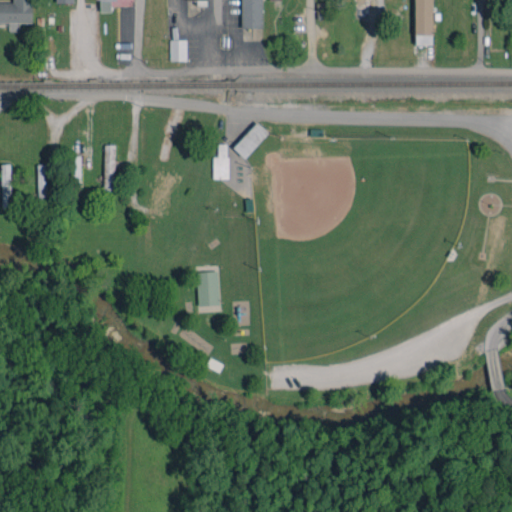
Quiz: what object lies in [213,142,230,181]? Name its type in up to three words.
building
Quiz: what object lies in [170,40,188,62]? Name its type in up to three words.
building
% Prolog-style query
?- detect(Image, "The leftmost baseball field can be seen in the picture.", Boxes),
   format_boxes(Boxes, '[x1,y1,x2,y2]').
[258,138,468,362]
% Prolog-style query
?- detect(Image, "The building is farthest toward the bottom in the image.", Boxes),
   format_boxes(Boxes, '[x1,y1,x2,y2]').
[196,265,222,313]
